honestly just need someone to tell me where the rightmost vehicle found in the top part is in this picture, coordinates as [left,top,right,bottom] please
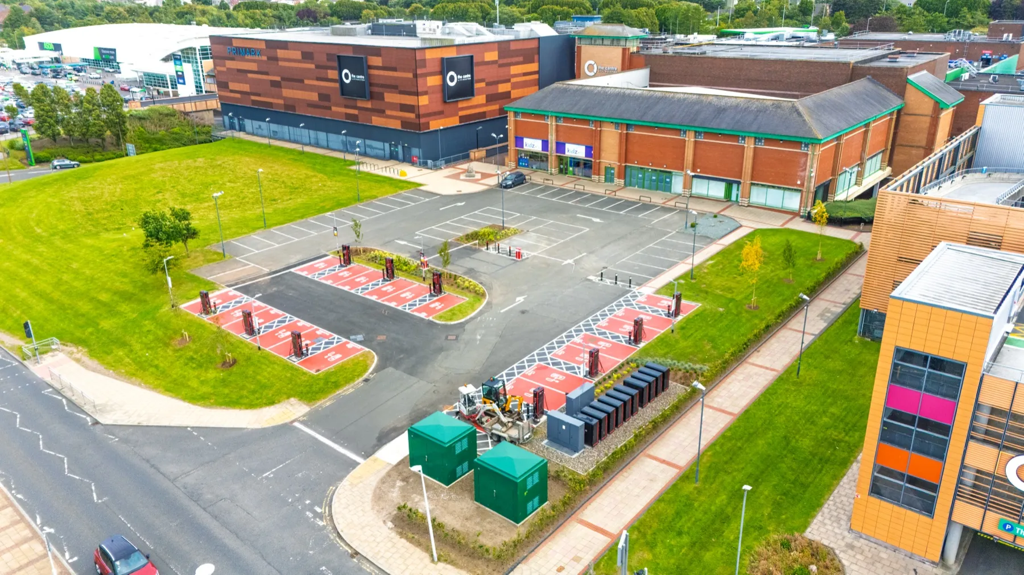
[502,168,532,185]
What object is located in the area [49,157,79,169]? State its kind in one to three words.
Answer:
vehicle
